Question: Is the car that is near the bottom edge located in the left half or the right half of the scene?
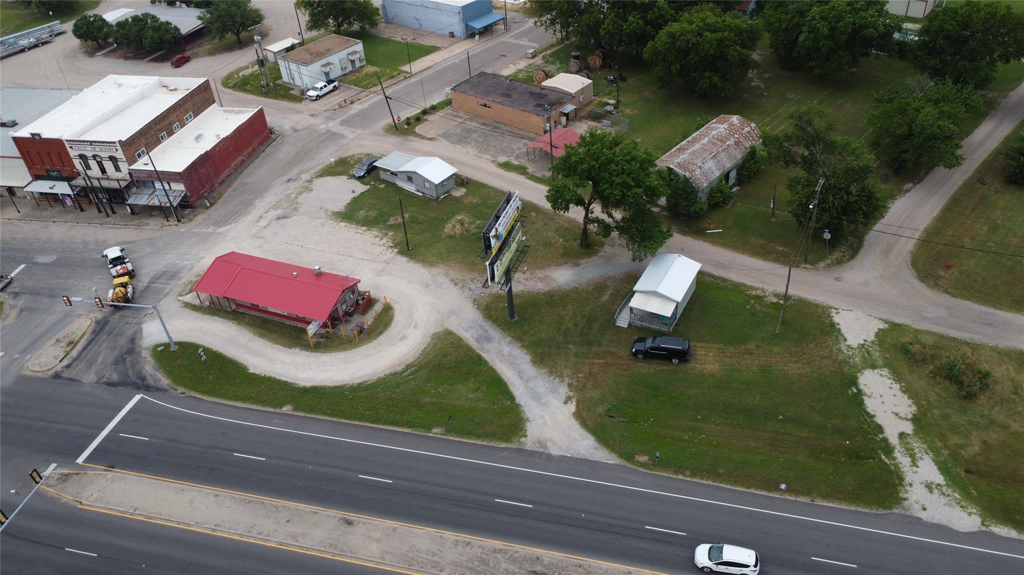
right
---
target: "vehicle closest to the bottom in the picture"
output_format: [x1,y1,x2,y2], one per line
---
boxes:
[694,544,760,575]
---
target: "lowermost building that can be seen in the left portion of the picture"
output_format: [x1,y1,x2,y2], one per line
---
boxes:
[194,250,361,333]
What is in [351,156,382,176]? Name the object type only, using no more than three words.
car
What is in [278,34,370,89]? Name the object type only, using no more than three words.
building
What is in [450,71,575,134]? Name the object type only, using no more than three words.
building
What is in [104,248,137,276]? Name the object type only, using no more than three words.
truck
